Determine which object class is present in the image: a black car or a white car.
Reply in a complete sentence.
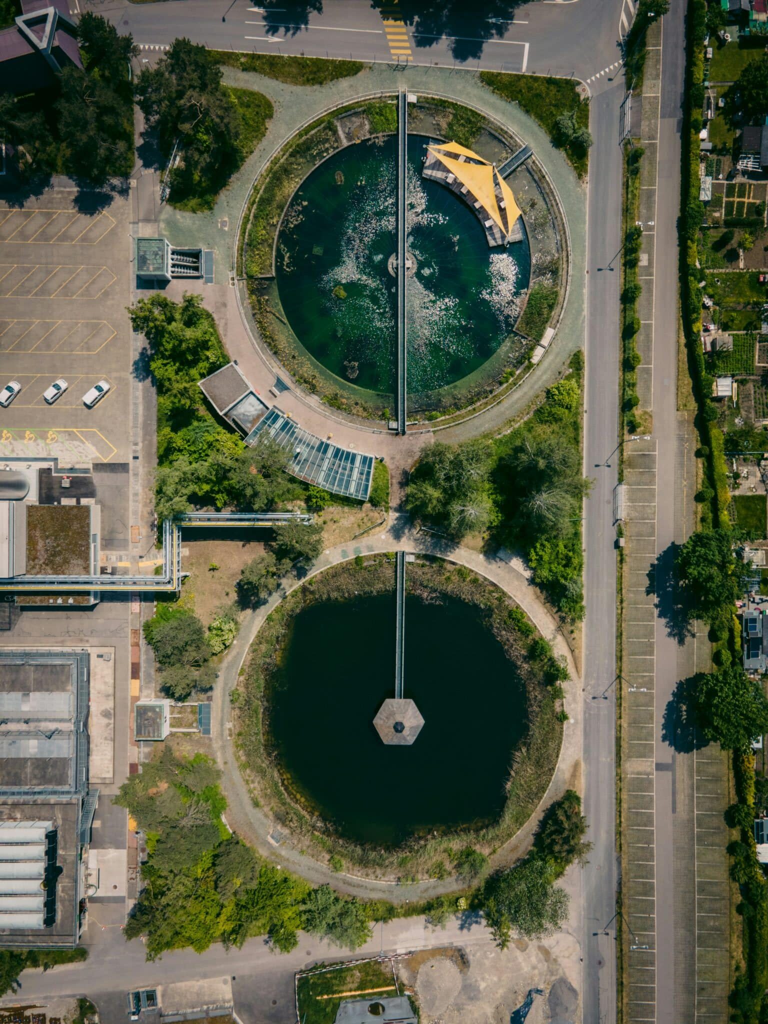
There is a white car in the scene.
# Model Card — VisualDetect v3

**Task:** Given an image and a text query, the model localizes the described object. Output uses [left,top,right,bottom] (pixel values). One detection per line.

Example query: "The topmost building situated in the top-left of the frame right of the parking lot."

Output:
[137,238,172,281]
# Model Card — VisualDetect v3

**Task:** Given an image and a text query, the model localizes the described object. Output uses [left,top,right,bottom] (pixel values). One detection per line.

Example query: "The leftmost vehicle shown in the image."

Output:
[0,380,20,407]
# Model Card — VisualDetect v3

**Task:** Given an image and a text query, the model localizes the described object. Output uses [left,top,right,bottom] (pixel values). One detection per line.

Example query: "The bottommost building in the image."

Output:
[335,987,425,1024]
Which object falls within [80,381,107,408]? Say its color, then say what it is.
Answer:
white car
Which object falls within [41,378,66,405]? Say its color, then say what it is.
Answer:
white car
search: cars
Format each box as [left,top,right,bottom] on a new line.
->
[41,378,66,405]
[0,380,20,407]
[80,381,107,408]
